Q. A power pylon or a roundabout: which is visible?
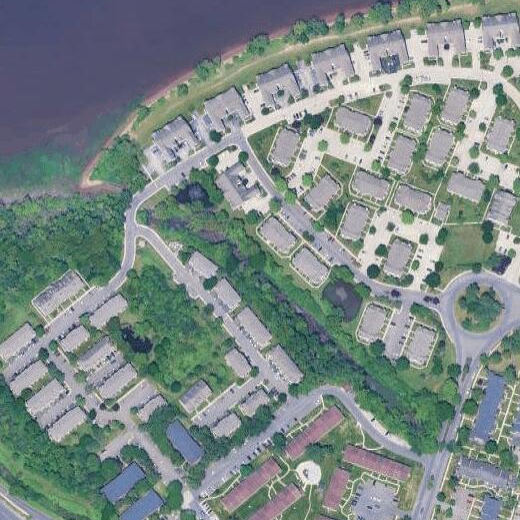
roundabout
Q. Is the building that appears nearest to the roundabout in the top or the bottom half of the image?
bottom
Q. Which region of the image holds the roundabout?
right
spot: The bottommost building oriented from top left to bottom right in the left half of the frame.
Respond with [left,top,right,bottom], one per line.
[167,419,202,465]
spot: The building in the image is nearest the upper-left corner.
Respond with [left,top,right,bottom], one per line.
[152,116,198,161]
